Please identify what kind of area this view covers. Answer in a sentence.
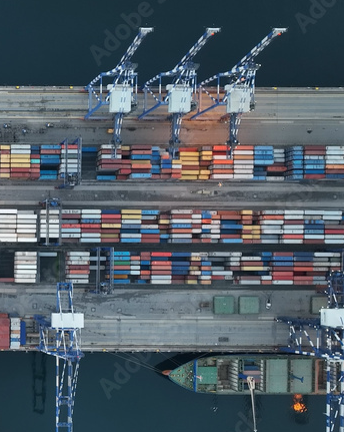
This image shows a port.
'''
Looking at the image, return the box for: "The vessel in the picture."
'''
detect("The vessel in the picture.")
[112,350,342,432]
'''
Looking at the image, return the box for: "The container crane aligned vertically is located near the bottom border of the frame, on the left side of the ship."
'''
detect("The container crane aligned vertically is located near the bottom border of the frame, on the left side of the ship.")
[30,282,87,432]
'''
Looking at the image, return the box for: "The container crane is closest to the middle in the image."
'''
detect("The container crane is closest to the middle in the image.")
[87,247,117,292]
